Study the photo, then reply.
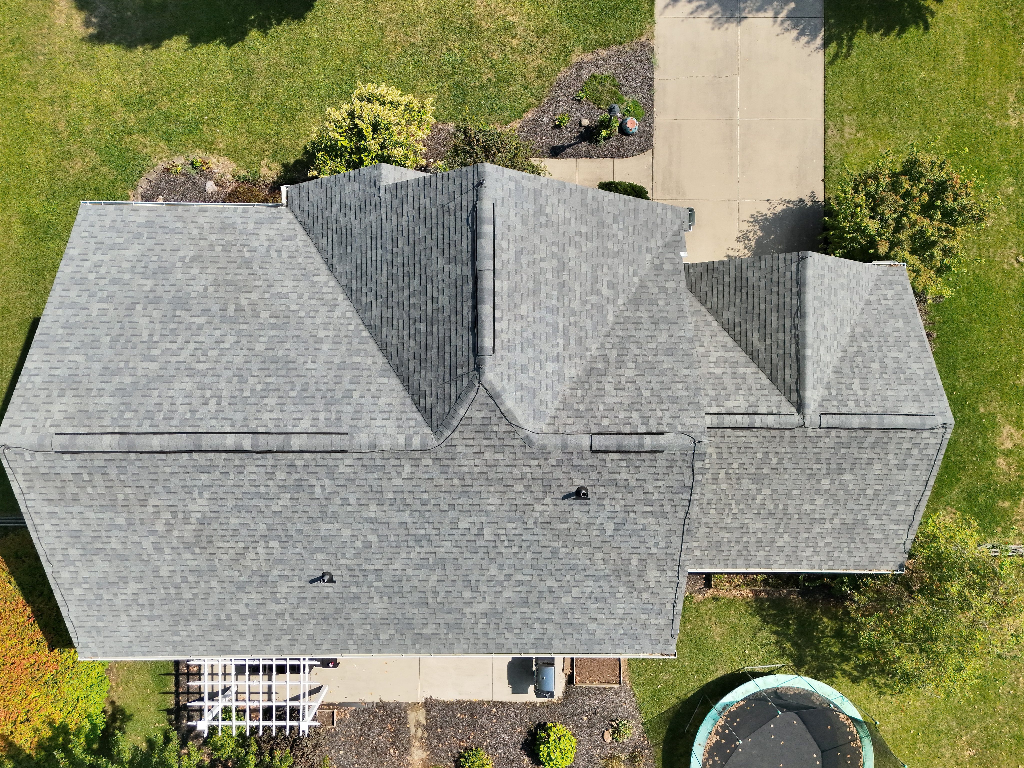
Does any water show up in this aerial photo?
No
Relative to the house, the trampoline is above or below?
below it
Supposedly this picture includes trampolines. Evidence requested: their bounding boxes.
[685,662,908,768]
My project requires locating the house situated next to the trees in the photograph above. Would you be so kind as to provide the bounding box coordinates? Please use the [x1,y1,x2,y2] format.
[0,163,955,660]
